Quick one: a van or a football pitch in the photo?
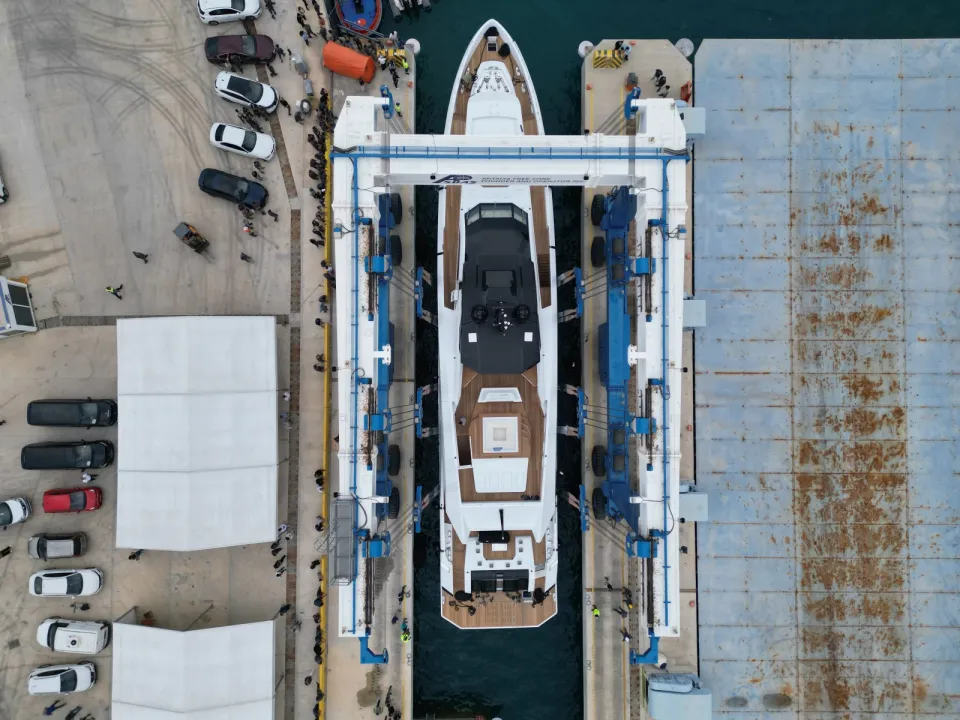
van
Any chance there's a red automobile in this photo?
Yes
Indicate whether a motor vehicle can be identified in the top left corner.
Yes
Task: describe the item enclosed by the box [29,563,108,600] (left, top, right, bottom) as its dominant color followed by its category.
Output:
white car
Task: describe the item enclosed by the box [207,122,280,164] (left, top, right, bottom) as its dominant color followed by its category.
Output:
white car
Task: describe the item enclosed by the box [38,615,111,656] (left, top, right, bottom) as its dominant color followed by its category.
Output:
white van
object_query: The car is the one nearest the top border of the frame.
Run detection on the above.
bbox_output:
[196,0,265,31]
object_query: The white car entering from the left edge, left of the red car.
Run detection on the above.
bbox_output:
[0,495,37,532]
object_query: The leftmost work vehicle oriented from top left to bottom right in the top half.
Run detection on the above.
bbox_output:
[160,214,222,262]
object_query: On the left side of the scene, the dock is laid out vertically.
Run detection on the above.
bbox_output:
[322,38,417,720]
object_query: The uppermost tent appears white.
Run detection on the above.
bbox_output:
[112,316,289,555]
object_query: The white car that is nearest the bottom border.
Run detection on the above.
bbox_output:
[27,658,102,698]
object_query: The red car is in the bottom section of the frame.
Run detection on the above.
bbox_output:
[37,484,108,517]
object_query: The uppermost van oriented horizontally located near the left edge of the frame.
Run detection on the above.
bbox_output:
[21,395,114,431]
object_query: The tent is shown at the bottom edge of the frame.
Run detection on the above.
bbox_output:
[109,607,285,720]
